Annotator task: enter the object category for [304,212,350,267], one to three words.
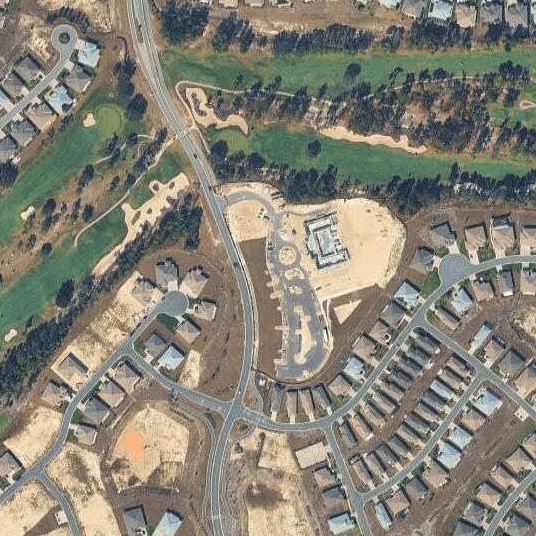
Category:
building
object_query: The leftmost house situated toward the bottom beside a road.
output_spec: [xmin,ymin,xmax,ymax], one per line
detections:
[0,451,21,480]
